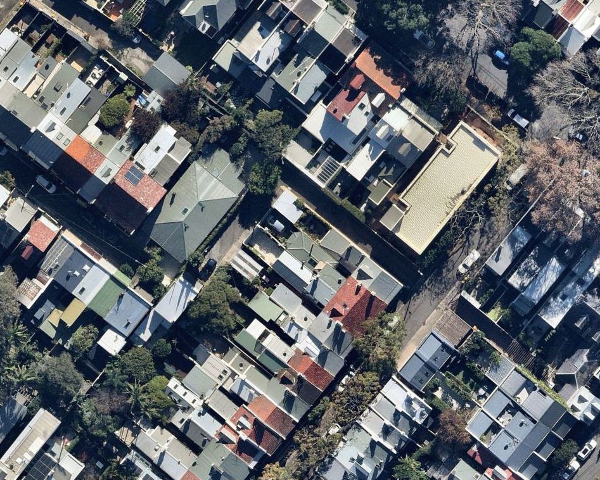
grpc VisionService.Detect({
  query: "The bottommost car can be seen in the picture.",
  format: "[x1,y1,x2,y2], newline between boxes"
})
[557,459,585,480]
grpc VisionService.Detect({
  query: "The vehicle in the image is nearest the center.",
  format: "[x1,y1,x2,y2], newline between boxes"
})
[265,213,290,236]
